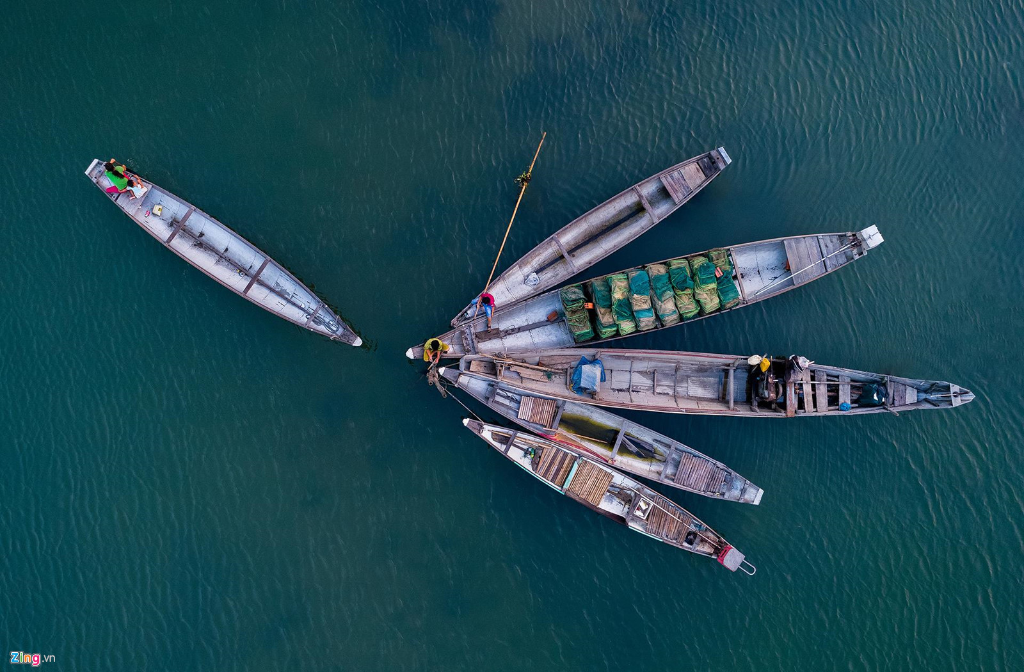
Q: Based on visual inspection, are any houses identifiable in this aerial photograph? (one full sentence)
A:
No, there appears to be no house in this shot.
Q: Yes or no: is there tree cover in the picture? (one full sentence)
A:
No, the scene doesn't show any tree cover.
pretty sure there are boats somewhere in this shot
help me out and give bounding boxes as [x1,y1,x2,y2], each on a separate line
[461,419,756,575]
[450,146,733,327]
[437,368,766,506]
[461,348,975,417]
[83,157,366,347]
